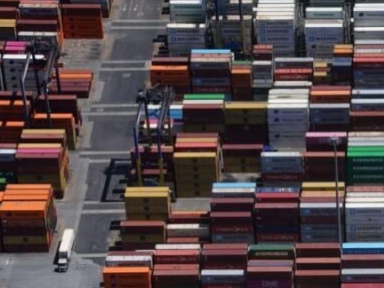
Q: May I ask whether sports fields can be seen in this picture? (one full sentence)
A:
No, there is no sports field in the image.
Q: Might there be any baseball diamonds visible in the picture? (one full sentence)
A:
No, I can see no baseball diamond in this picture.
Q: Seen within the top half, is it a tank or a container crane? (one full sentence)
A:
You can see a container crane within the top half.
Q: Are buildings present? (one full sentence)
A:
No, the scene contains no building.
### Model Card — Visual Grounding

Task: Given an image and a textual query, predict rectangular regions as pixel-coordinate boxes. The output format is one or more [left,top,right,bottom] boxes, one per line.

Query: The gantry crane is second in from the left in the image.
[126,81,176,202]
